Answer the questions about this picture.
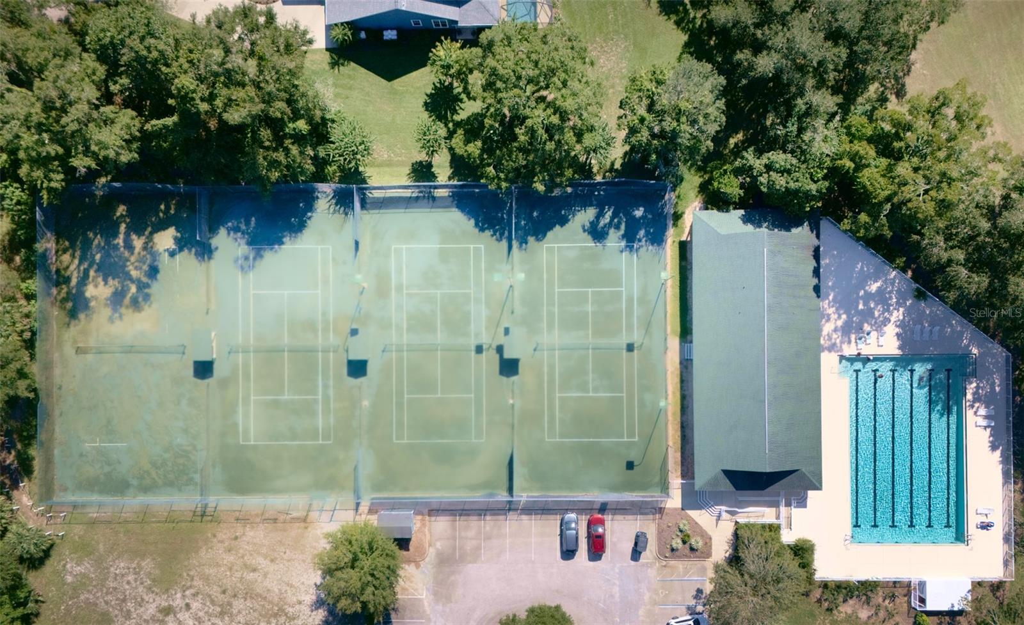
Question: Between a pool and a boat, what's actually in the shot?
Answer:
pool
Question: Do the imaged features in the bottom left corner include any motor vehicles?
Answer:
No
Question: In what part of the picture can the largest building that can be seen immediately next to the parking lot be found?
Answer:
right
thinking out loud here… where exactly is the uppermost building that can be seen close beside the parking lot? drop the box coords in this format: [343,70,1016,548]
[691,210,822,491]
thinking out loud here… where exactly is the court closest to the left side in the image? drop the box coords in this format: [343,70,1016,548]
[53,191,208,497]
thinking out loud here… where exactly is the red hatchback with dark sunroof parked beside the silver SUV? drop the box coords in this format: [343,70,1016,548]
[588,514,607,553]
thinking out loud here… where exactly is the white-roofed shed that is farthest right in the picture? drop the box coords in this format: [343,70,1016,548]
[899,573,971,610]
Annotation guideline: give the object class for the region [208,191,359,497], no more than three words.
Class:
tennis court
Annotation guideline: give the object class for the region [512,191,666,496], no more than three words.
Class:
tennis court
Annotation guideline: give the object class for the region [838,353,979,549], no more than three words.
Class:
swimming pool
